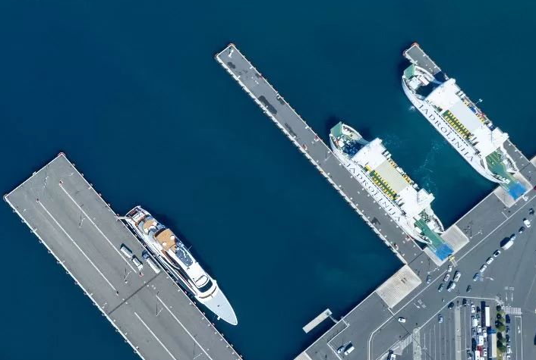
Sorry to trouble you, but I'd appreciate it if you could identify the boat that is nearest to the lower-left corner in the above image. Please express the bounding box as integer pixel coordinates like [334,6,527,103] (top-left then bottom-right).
[125,204,234,323]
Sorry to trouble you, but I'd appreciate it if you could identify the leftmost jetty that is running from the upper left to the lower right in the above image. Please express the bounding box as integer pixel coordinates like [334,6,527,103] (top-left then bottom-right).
[4,150,244,360]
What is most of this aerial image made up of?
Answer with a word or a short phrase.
water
